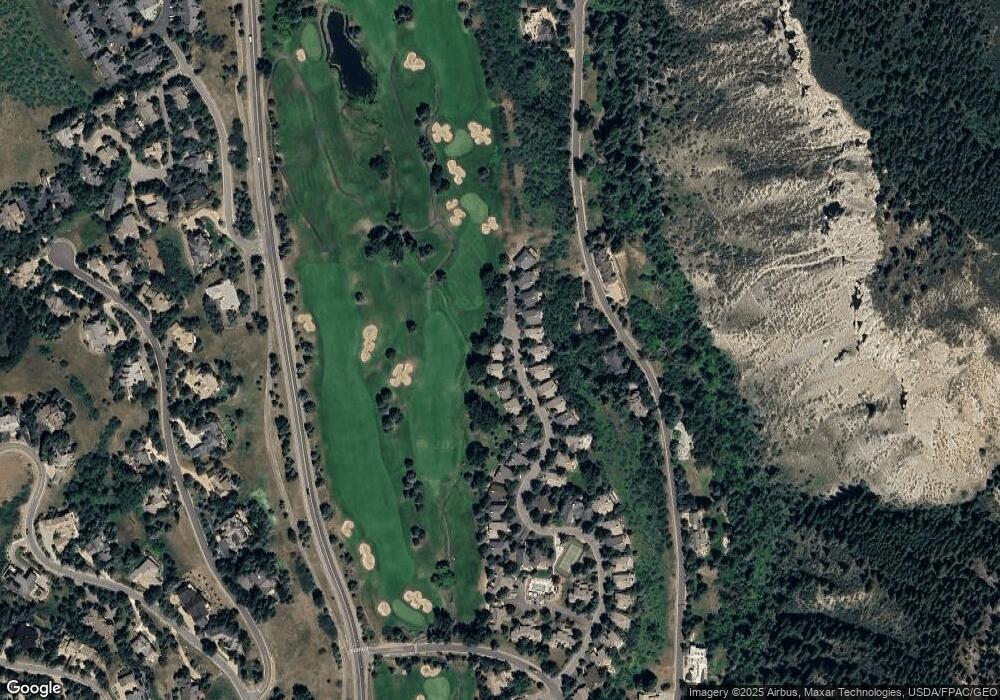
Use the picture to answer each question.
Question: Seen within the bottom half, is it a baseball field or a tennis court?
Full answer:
The feature located within the bottom half is a tennis court.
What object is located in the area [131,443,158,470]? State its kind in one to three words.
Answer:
house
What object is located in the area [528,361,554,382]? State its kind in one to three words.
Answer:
house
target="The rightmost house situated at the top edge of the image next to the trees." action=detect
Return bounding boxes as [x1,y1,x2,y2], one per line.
[535,16,564,41]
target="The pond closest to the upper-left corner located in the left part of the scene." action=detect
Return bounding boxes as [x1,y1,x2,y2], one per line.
[329,13,375,101]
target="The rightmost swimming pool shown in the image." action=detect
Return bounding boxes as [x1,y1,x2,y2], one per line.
[524,575,558,601]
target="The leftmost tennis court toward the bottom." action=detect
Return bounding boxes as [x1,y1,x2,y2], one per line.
[556,538,583,576]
